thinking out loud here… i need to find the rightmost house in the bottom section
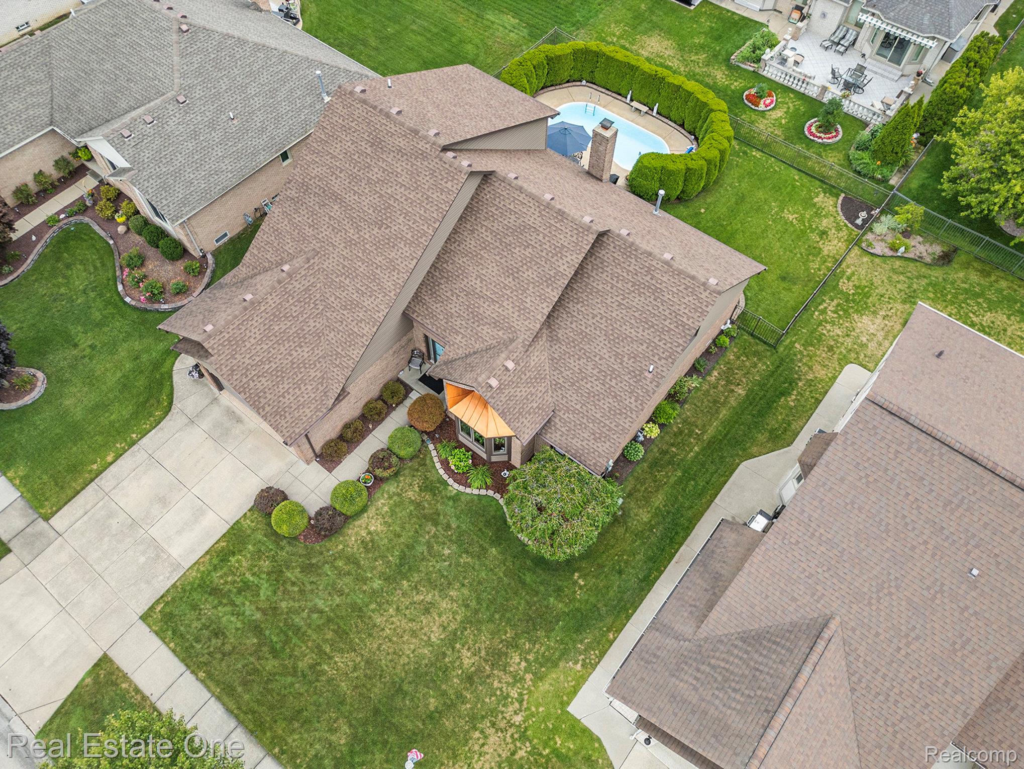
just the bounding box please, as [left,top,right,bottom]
[600,299,1024,769]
